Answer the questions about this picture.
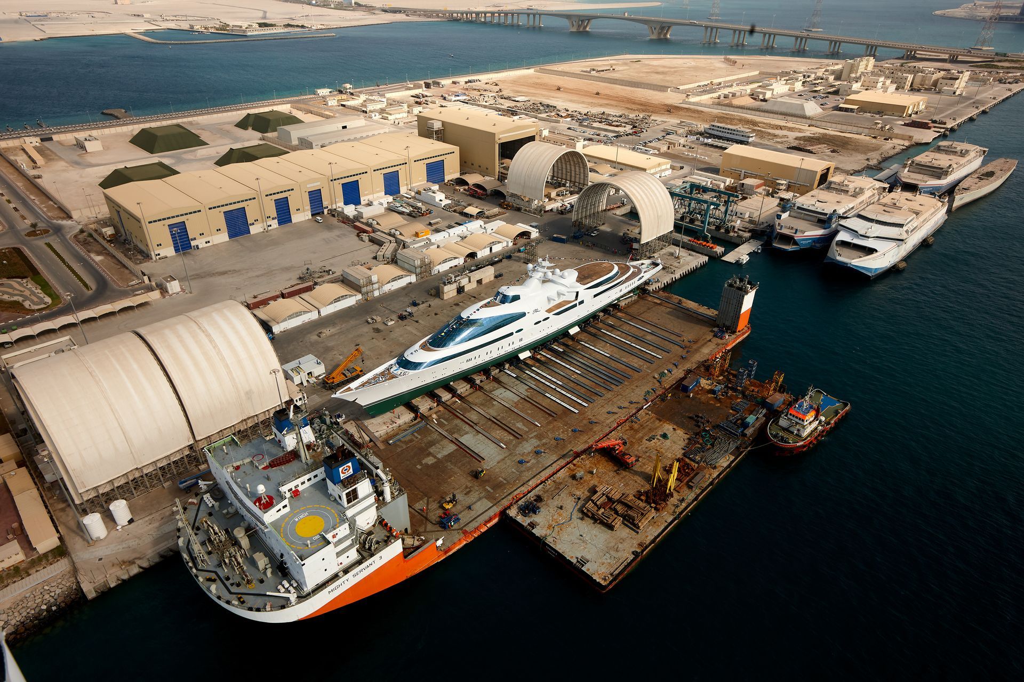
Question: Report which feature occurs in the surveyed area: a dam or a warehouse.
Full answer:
There is a warehouse in the scene.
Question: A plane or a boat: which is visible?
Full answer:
The one in the frame is a boat.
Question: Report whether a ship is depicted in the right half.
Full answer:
Yes, in the right half there is a ship.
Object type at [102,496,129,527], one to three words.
water tank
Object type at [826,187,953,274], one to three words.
ship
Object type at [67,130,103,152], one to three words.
building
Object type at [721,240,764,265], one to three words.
pier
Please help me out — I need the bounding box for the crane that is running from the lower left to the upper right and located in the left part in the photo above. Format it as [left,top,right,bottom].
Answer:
[324,342,370,390]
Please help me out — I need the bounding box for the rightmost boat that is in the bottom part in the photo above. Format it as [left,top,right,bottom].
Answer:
[761,381,857,454]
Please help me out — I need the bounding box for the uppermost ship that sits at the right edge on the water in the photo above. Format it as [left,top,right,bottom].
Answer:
[904,138,982,191]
